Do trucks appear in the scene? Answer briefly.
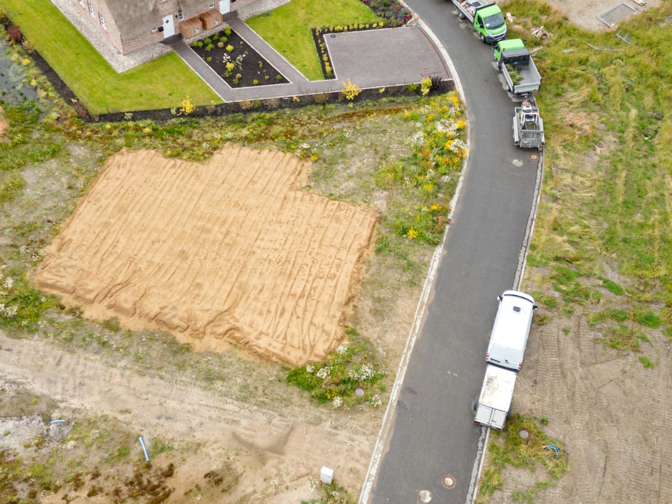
Yes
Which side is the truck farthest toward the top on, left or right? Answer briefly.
right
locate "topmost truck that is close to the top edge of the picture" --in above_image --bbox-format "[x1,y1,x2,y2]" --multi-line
[456,0,509,44]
